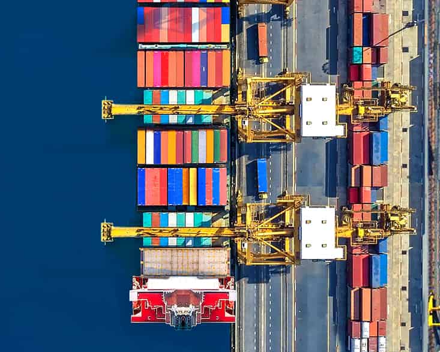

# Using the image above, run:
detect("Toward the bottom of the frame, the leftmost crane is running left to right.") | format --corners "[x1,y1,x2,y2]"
[104,182,414,264]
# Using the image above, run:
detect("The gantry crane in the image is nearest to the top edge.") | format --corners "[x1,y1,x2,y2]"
[104,66,414,143]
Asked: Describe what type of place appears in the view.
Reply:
port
